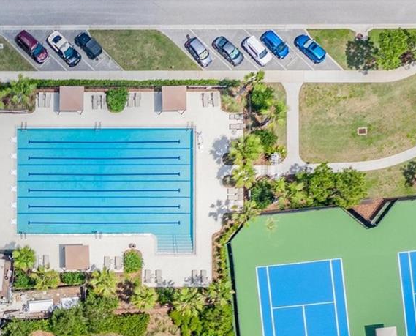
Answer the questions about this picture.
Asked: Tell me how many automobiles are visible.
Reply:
eight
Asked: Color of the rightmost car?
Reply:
blue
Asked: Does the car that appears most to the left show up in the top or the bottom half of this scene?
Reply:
top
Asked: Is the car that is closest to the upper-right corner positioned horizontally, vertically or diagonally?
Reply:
diagonally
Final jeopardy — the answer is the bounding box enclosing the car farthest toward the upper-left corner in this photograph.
[15,29,48,65]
